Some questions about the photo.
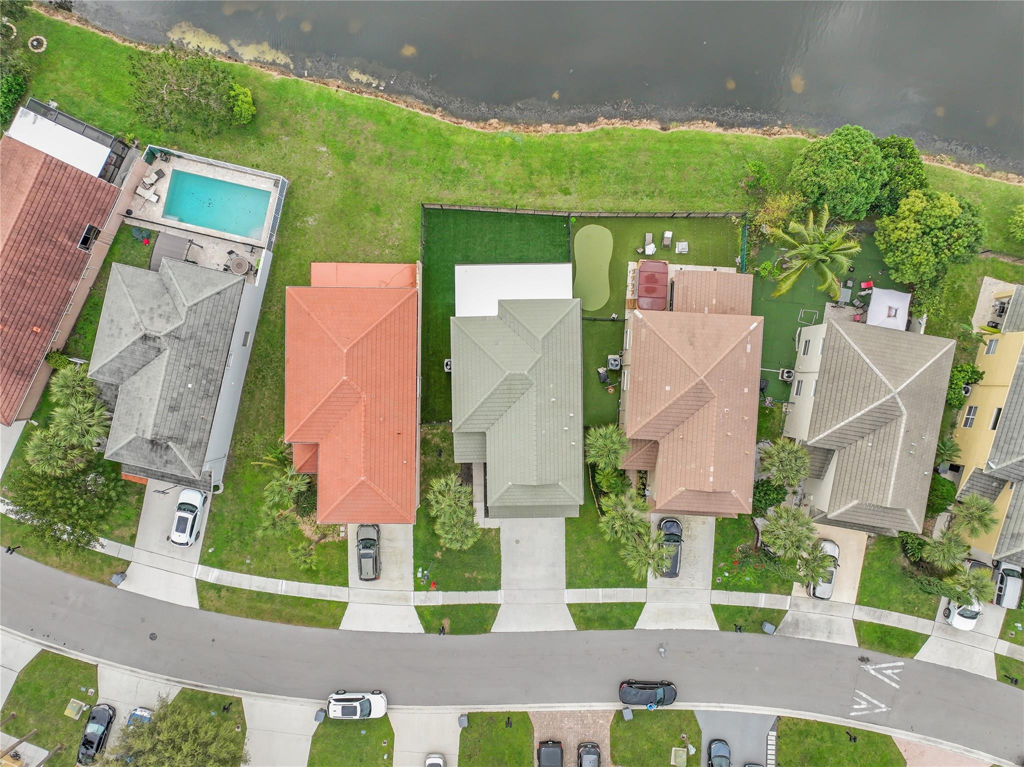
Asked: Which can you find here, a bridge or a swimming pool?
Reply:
swimming pool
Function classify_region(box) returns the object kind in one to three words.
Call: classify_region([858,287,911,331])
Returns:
gazebo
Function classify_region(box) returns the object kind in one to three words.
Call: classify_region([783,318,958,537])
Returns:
house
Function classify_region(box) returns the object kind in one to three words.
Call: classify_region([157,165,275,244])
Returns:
swimming pool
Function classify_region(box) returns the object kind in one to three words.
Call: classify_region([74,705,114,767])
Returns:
car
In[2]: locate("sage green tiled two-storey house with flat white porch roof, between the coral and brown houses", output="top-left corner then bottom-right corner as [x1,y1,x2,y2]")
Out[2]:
[450,263,585,518]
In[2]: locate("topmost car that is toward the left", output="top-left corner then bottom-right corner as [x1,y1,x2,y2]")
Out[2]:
[169,488,206,547]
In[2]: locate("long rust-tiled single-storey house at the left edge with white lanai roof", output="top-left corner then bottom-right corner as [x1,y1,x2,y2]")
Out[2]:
[0,105,132,427]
